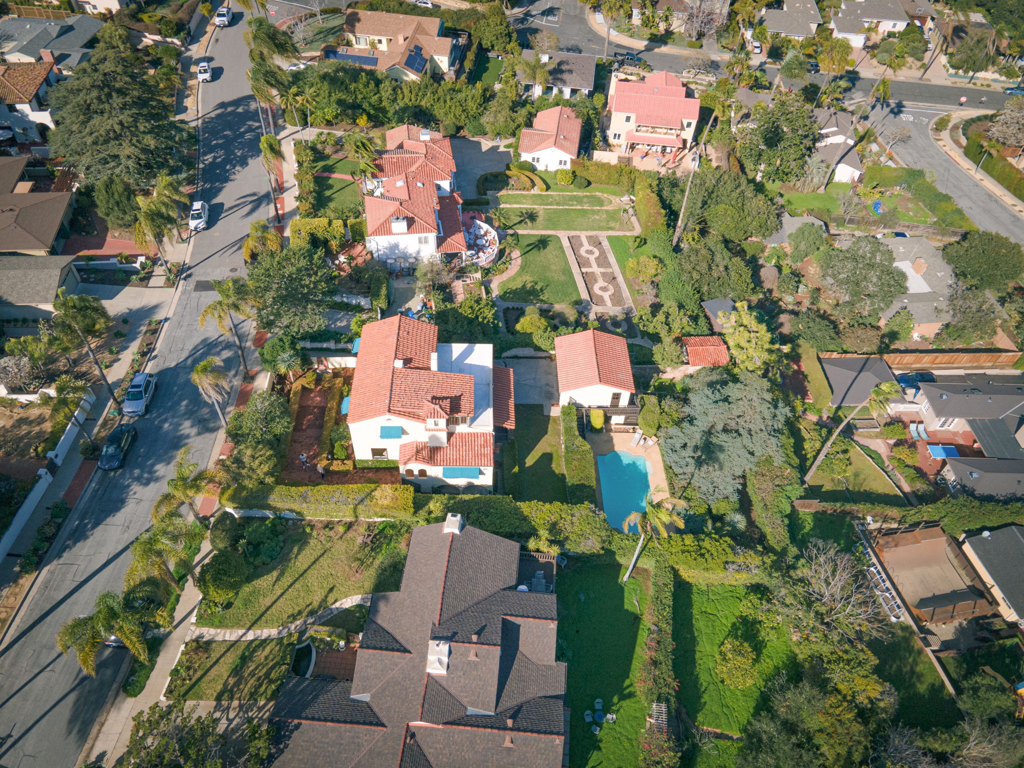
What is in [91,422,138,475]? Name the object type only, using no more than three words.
car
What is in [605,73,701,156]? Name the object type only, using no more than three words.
house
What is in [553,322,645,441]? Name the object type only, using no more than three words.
building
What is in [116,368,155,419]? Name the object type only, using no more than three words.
car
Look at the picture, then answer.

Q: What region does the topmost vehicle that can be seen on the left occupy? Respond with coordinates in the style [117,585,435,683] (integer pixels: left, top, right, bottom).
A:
[216,6,231,22]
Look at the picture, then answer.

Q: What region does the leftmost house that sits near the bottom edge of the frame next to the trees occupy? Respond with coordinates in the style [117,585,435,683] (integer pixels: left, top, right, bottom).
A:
[236,511,570,768]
